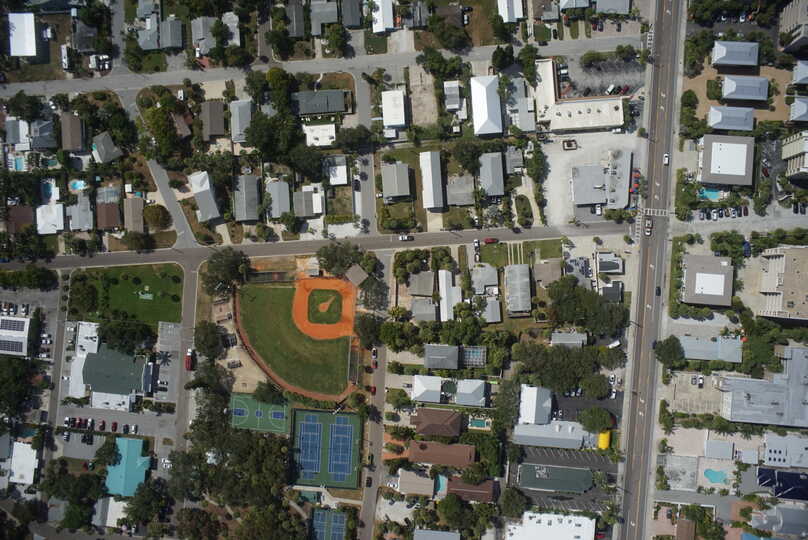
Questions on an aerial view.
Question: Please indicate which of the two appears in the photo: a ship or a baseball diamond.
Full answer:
Looking from above, you can make out a baseball diamond.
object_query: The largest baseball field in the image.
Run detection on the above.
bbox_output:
[232,278,358,400]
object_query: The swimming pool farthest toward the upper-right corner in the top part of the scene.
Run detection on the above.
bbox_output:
[699,187,721,201]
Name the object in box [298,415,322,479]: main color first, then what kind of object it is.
blue tennis court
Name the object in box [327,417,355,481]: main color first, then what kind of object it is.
blue tennis court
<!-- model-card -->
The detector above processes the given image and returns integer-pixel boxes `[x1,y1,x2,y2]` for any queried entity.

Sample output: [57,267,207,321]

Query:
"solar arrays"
[0,319,26,332]
[0,340,23,352]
